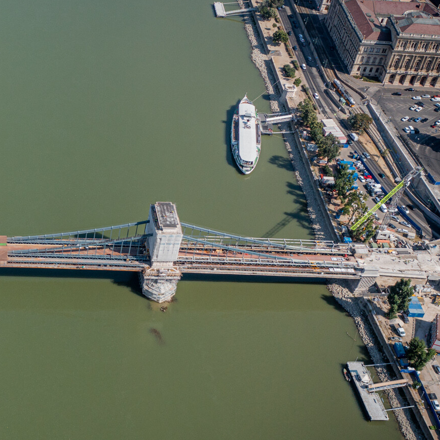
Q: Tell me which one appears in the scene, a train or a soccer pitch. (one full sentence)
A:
It is a train that can be seen here.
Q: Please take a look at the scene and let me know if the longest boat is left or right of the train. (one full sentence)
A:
It is on the left side of the train that the longest boat is positioned.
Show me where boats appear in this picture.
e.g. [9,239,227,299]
[231,94,262,177]
[343,369,352,381]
